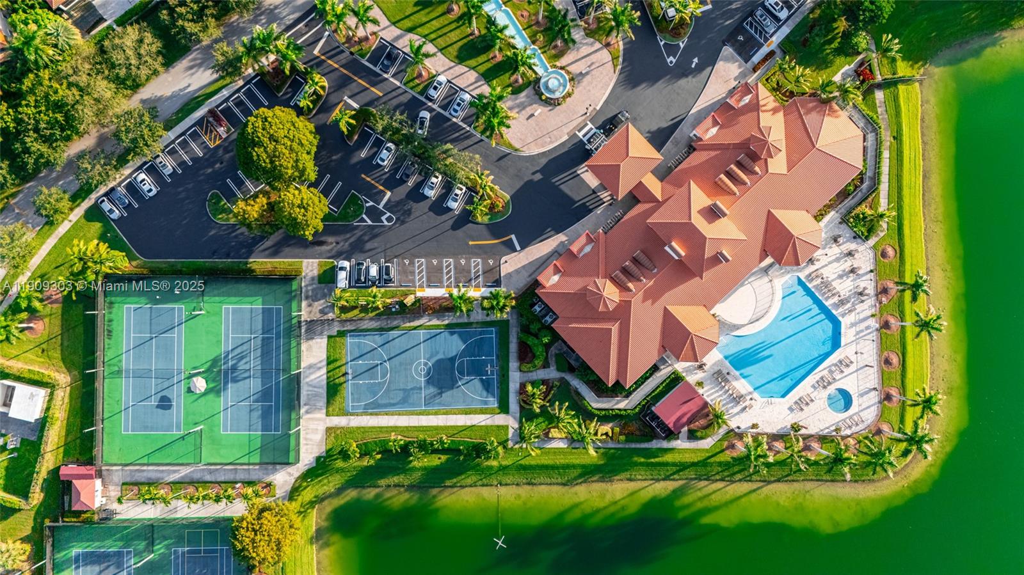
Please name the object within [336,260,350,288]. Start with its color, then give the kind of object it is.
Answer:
white car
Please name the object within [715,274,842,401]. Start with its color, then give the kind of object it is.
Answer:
blue swimming pool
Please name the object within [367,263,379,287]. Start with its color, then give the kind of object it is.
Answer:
white vehicle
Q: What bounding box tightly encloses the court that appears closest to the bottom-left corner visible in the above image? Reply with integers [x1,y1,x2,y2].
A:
[52,523,154,575]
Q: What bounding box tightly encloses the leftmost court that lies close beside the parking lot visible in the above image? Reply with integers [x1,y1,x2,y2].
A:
[102,279,203,466]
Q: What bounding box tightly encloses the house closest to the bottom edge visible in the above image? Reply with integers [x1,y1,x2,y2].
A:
[60,465,103,510]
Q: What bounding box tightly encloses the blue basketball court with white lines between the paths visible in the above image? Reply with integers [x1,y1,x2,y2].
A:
[346,327,500,414]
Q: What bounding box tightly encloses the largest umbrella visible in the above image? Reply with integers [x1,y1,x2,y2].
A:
[190,376,207,393]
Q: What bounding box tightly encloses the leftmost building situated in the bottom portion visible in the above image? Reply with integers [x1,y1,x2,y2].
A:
[0,379,57,422]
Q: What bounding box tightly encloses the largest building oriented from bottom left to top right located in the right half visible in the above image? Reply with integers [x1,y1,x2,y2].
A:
[535,82,863,388]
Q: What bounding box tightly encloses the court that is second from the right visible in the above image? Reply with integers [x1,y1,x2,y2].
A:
[203,279,301,465]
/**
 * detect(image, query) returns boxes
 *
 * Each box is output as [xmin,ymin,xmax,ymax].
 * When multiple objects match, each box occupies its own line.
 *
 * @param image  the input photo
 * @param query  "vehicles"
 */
[98,503,111,517]
[152,152,175,177]
[135,171,158,196]
[384,262,394,285]
[398,157,418,183]
[376,141,397,167]
[427,74,447,100]
[108,184,131,209]
[98,195,122,220]
[595,114,624,141]
[764,0,787,21]
[423,173,443,197]
[379,46,399,72]
[417,111,430,135]
[353,259,367,286]
[573,0,590,23]
[450,92,470,117]
[367,263,379,287]
[336,260,350,288]
[753,9,777,34]
[446,184,467,210]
